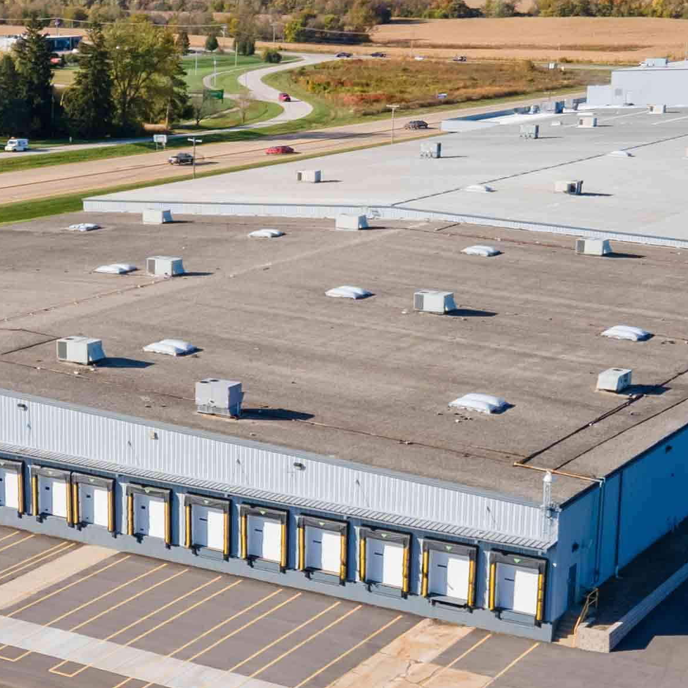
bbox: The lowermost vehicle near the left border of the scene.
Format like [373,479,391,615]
[6,136,28,151]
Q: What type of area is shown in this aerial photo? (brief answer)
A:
industrial area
